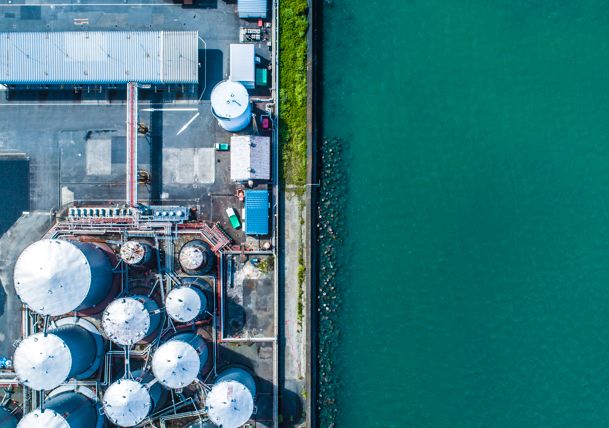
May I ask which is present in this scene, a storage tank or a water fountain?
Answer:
storage tank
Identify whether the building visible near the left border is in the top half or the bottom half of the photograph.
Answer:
top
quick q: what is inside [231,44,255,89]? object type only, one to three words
building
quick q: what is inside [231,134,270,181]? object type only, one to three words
building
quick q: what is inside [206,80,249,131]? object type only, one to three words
storage tank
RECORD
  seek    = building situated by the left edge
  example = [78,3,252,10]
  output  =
[0,30,209,95]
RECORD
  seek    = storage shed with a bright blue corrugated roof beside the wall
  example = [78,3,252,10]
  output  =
[243,190,270,235]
